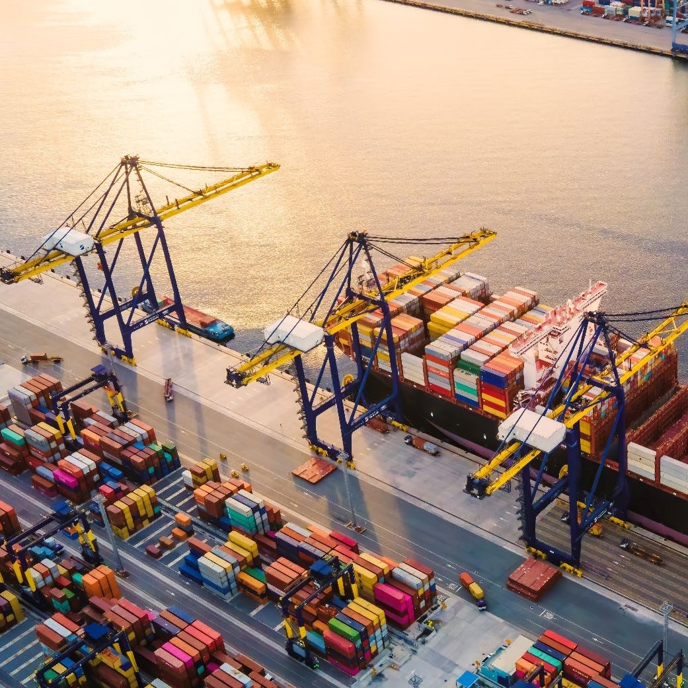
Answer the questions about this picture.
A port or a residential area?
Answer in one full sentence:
The area seen from above is a port.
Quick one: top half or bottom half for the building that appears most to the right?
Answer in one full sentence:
The building that appears most to the right is in the bottom half of the image.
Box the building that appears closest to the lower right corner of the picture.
[487,636,535,686]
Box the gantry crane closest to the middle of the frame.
[221,221,500,467]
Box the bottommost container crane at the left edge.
[31,619,144,688]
